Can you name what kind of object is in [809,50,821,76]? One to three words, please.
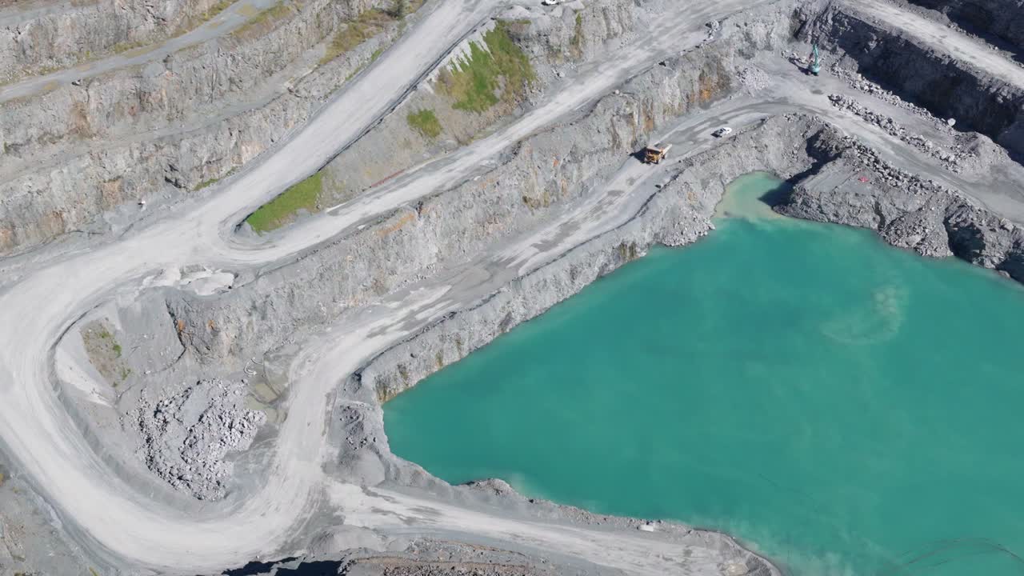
vehicle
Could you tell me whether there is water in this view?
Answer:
Yes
